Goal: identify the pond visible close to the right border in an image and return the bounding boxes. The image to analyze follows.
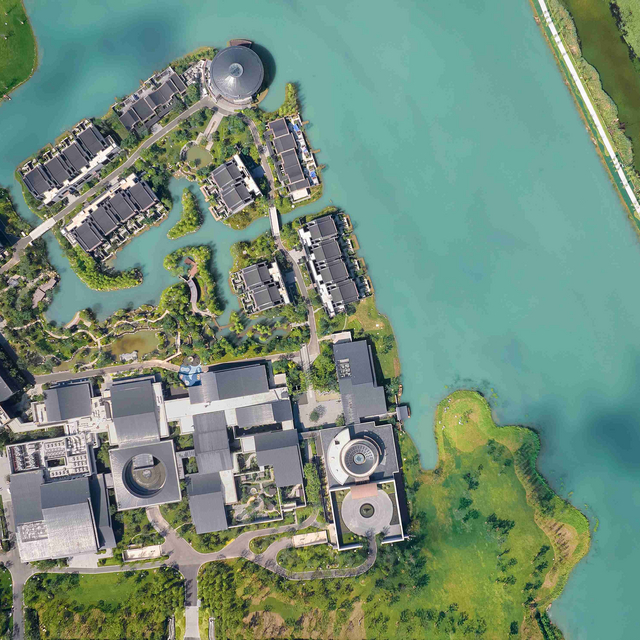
[564,0,640,171]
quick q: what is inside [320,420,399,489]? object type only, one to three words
building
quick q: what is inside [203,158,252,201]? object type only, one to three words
house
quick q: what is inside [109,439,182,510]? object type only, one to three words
building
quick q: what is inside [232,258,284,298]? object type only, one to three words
house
